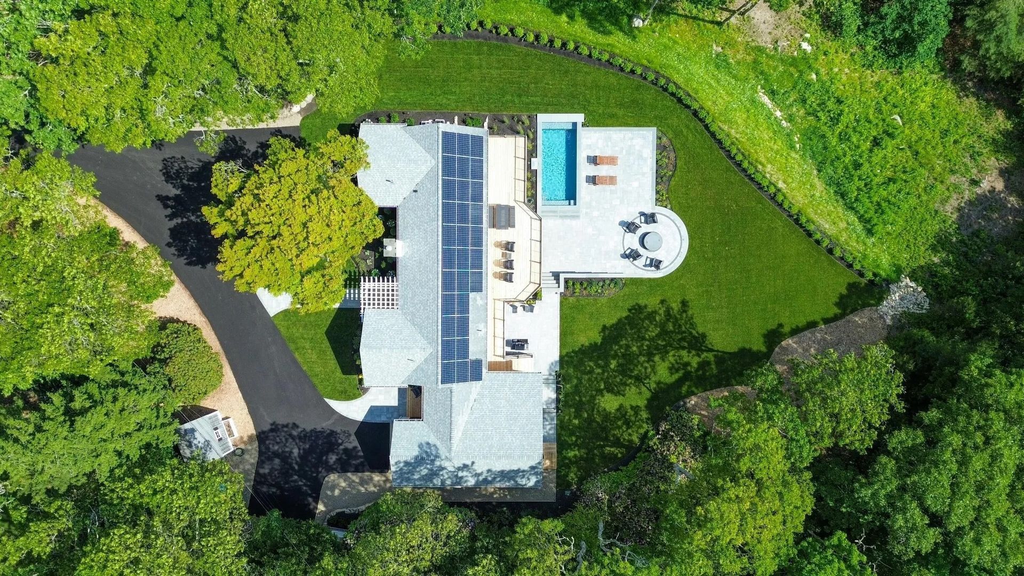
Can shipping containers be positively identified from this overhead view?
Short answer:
No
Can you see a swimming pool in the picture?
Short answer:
Yes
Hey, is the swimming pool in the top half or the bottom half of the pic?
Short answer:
top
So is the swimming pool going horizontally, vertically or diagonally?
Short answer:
vertically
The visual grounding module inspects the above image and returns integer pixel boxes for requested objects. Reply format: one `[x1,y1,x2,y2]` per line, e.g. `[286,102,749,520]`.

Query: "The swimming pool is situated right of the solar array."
[537,114,584,216]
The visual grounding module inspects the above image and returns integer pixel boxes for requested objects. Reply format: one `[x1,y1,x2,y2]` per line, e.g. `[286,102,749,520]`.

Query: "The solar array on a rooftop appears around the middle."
[443,131,484,384]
